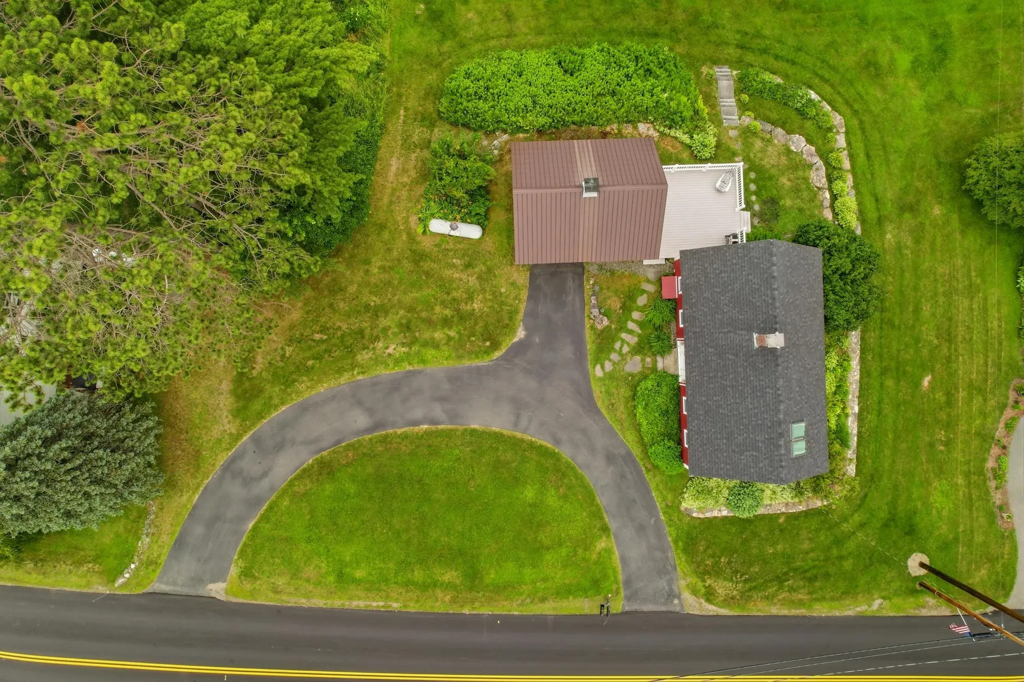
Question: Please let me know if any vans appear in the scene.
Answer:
No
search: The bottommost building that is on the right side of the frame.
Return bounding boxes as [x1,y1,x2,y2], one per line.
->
[673,239,828,485]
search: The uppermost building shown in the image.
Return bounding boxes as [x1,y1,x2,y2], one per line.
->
[512,136,671,265]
